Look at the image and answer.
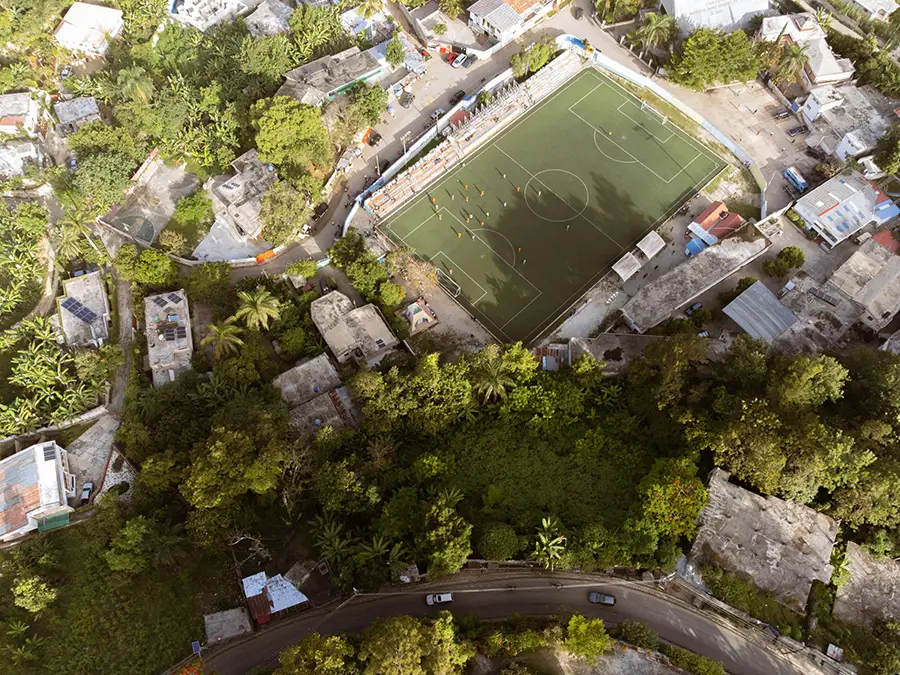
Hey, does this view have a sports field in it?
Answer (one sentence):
Yes, the photo shows a sports field.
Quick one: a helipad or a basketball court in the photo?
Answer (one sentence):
Looking from above, you can make out a basketball court.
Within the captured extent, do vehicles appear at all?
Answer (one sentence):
Yes, the picture does show a vehicle.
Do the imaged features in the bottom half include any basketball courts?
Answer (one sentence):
No, no basketball court is visible in the bottom half.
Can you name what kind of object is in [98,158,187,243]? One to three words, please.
basketball court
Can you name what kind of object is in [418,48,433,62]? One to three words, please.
vehicle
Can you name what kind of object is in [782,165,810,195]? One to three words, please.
bus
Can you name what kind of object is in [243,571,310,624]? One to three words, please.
shed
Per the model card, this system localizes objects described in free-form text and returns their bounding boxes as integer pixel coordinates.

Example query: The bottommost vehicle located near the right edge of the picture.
[853,232,873,248]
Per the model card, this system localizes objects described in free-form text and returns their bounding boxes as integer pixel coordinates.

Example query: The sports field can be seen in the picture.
[377,63,731,350]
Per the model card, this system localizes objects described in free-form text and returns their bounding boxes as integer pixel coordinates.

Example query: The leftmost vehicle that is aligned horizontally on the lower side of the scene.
[425,593,454,606]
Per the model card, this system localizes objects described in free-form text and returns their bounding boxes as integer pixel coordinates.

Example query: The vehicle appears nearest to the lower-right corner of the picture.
[589,592,615,606]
